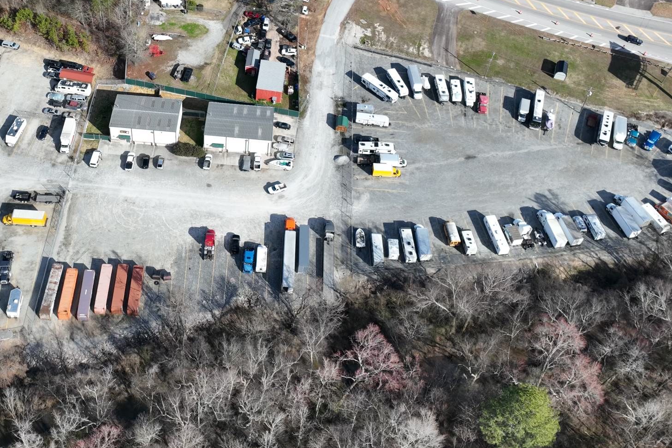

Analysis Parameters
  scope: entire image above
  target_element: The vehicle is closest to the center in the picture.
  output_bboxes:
[324,219,337,242]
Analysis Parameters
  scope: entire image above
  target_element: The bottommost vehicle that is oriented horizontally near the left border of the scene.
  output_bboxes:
[2,210,48,228]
